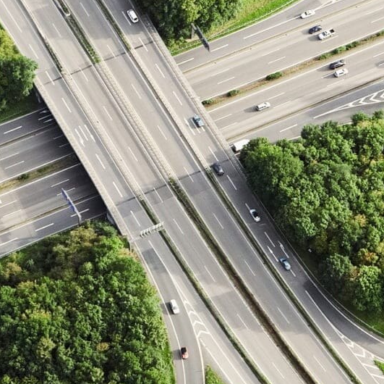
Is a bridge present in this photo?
Yes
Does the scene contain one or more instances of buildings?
No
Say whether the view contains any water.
No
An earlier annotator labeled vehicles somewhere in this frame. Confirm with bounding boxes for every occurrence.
[300,10,315,18]
[212,162,223,175]
[235,131,267,151]
[255,102,270,111]
[180,346,188,360]
[319,29,334,39]
[250,209,260,221]
[169,299,179,315]
[330,60,344,68]
[334,69,346,76]
[309,25,323,34]
[279,258,290,270]
[127,10,136,22]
